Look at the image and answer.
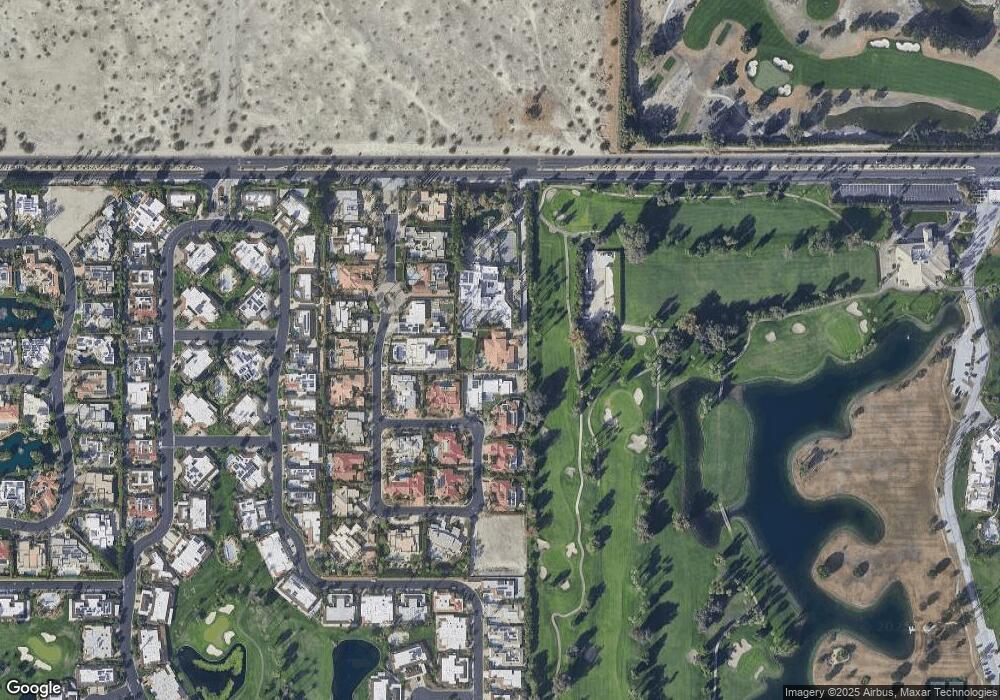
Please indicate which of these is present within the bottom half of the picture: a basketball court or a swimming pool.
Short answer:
swimming pool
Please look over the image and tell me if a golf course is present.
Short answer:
Yes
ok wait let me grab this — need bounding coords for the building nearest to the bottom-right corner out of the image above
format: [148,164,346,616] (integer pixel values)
[967,418,1000,512]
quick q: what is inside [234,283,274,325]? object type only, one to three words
house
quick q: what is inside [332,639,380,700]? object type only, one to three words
pond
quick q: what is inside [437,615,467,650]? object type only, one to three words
house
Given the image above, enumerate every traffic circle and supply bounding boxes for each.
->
[372,281,411,315]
